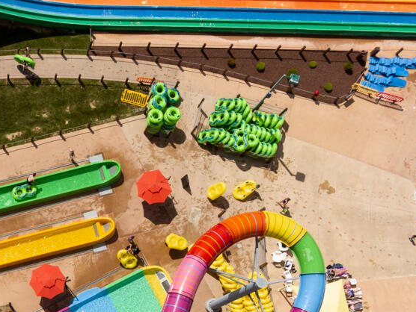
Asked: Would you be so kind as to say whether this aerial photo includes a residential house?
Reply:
No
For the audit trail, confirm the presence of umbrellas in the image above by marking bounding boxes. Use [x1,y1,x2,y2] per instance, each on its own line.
[32,265,65,299]
[134,172,169,206]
